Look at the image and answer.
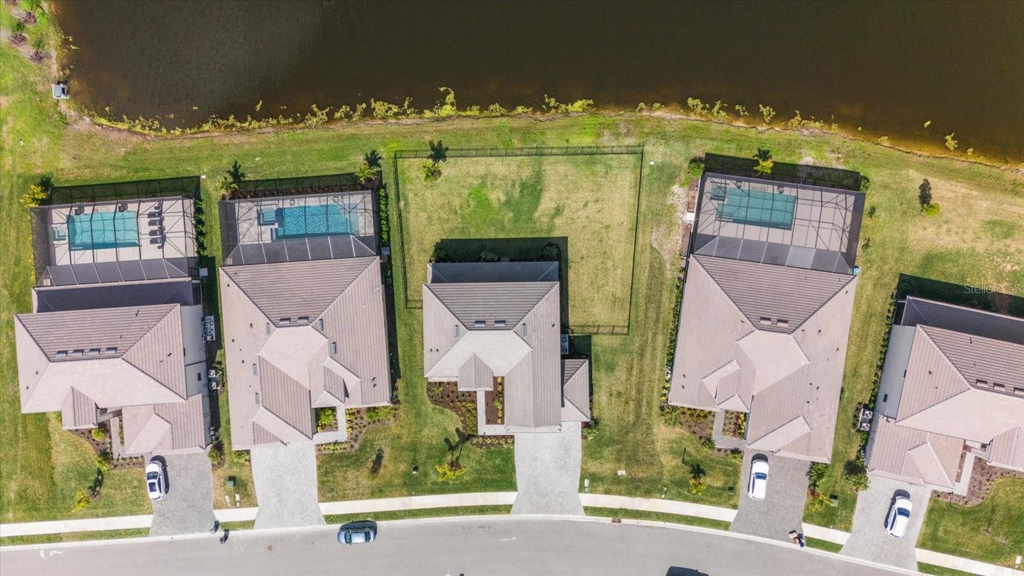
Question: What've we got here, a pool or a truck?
pool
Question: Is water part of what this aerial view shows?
Yes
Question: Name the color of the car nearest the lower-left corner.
white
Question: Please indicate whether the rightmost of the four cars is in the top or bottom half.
bottom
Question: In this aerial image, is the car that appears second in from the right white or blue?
white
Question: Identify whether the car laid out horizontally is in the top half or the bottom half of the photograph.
bottom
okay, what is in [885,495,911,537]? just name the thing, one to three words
car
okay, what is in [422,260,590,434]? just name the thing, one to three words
house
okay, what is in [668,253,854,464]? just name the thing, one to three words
house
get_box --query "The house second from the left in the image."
[219,255,391,450]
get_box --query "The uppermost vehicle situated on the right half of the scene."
[748,459,769,499]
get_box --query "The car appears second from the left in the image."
[338,523,377,543]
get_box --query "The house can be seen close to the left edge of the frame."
[14,277,212,454]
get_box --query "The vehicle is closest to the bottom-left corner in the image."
[146,458,169,500]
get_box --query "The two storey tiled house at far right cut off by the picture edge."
[864,297,1024,487]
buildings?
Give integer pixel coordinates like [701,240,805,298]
[422,260,590,434]
[14,277,212,454]
[668,253,854,464]
[219,255,391,450]
[864,297,1024,487]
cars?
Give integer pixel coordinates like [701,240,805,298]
[338,523,377,543]
[748,459,769,499]
[885,495,911,537]
[146,458,169,500]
